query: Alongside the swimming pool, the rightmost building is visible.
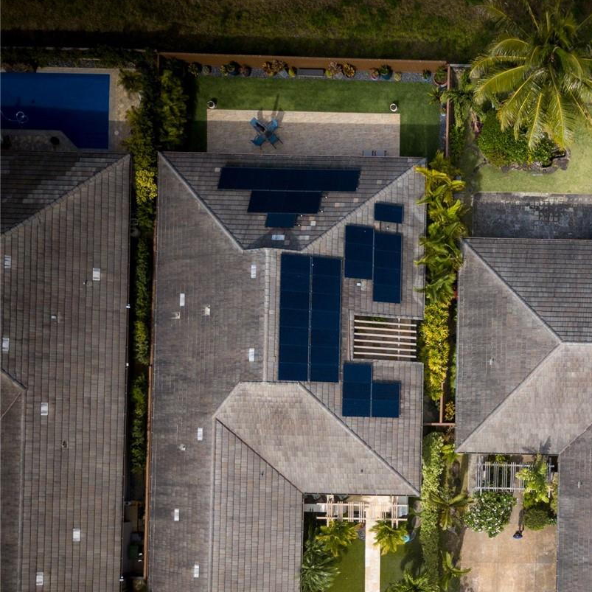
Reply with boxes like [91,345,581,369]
[149,152,430,592]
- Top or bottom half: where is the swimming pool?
top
